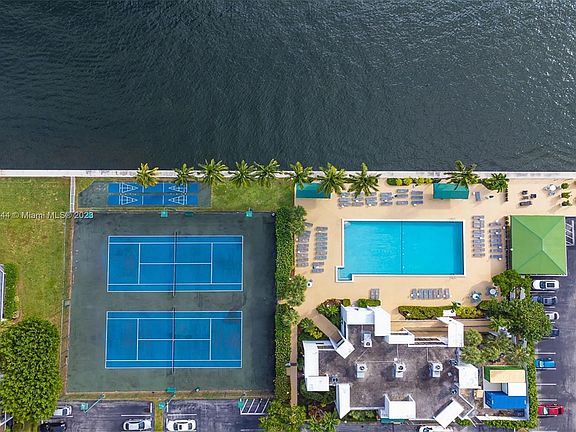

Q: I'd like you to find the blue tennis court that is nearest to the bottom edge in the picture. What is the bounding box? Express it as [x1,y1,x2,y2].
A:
[106,306,242,375]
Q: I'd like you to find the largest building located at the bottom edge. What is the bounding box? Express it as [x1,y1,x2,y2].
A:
[303,303,478,428]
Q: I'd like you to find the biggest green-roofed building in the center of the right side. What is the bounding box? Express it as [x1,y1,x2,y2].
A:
[503,214,567,276]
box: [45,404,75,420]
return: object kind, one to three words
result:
car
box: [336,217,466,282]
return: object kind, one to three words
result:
swimming pool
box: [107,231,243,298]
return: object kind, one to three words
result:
tennis court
